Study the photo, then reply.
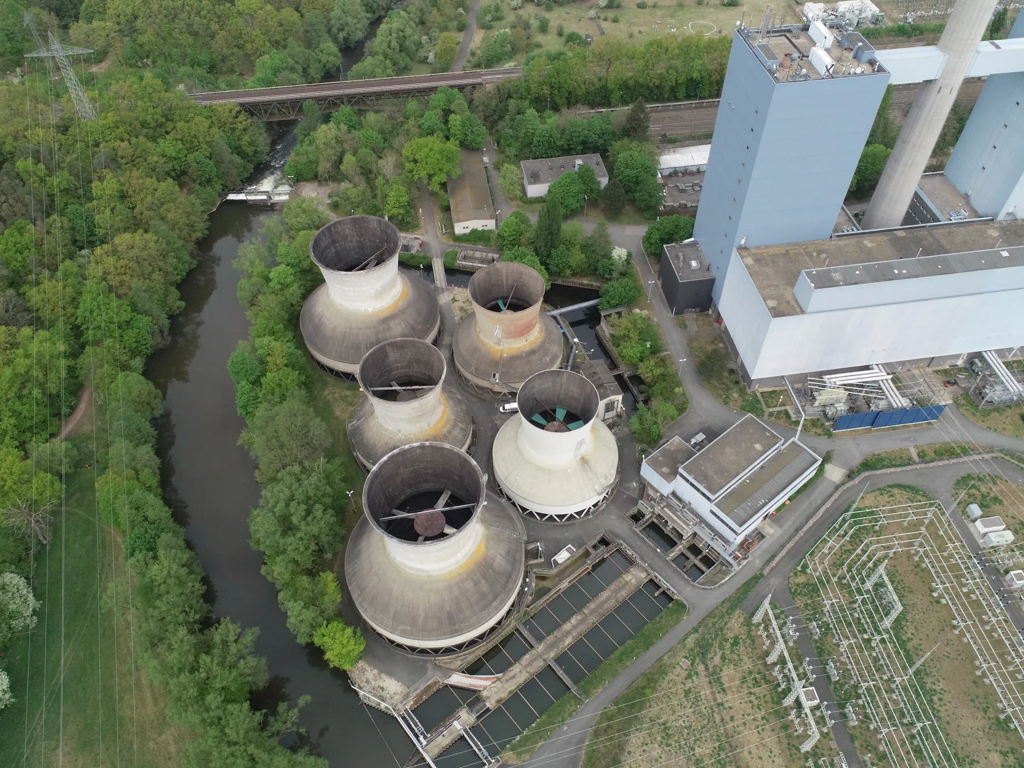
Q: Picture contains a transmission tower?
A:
Yes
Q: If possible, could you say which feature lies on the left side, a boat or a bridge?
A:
bridge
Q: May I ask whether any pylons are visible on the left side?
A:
Yes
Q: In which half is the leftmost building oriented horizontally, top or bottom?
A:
top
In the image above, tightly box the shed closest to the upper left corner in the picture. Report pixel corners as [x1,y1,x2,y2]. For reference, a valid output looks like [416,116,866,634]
[445,147,497,236]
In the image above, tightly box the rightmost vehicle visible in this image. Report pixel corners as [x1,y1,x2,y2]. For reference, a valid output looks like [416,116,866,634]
[942,375,961,388]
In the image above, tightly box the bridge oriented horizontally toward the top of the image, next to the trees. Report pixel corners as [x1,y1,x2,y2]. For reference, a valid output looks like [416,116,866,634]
[151,66,530,124]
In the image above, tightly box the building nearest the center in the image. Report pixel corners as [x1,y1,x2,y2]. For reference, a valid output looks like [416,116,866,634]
[578,360,626,417]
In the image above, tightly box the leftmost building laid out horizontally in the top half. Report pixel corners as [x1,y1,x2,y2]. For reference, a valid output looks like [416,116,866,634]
[521,153,608,196]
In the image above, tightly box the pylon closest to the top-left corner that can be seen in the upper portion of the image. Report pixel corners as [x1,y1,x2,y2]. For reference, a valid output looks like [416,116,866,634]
[9,12,51,65]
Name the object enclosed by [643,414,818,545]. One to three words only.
building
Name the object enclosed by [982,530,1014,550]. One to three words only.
shed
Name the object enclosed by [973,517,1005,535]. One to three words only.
shed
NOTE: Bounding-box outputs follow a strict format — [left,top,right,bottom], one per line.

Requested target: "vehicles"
[499,400,518,415]
[942,375,961,388]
